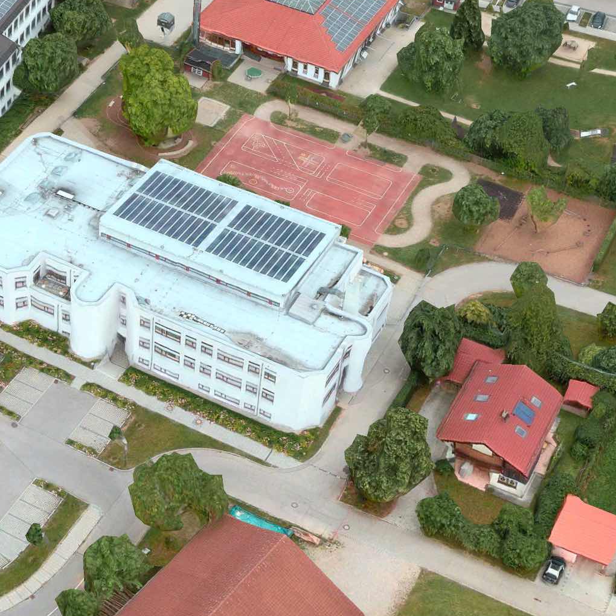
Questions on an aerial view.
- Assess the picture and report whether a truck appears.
No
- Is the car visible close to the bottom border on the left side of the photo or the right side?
right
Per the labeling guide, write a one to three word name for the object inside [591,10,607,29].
car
